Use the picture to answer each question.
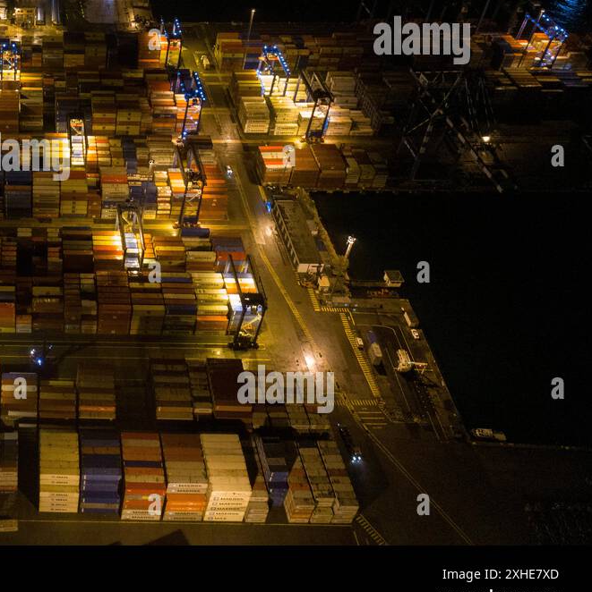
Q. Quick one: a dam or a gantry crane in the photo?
gantry crane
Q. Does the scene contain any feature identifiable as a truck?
Yes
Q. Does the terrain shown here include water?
Yes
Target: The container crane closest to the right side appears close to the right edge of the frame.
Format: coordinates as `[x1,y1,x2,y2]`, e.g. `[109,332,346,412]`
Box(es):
[528,17,574,69]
